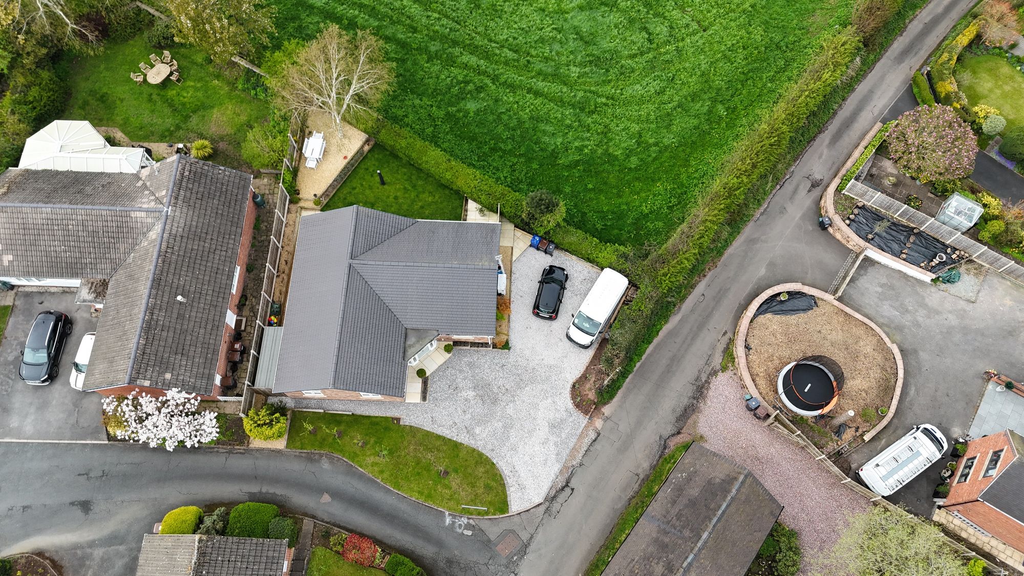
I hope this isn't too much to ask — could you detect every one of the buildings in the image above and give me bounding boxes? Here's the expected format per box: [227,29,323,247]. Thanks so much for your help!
[599,441,785,576]
[136,534,295,576]
[272,204,501,404]
[0,153,259,402]
[931,192,982,239]
[931,424,1024,550]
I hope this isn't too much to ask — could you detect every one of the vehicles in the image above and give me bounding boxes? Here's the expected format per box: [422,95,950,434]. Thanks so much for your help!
[569,270,627,354]
[531,266,570,324]
[22,312,76,386]
[65,331,95,392]
[849,424,943,501]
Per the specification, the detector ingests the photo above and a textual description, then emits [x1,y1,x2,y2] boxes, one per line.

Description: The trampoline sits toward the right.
[772,352,847,424]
